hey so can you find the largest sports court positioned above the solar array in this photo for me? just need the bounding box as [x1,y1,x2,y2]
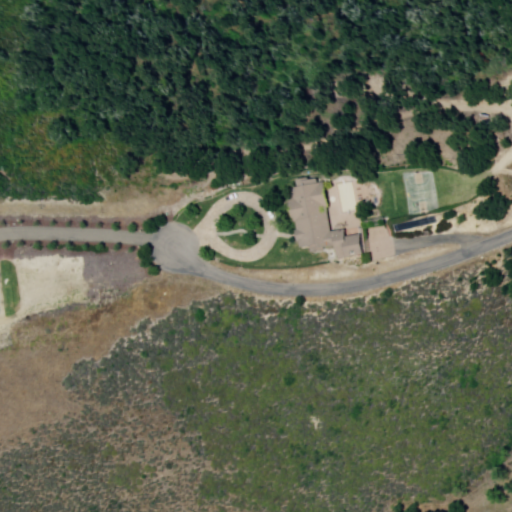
[404,172,438,214]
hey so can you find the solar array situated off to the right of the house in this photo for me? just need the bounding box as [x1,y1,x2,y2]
[394,216,437,232]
